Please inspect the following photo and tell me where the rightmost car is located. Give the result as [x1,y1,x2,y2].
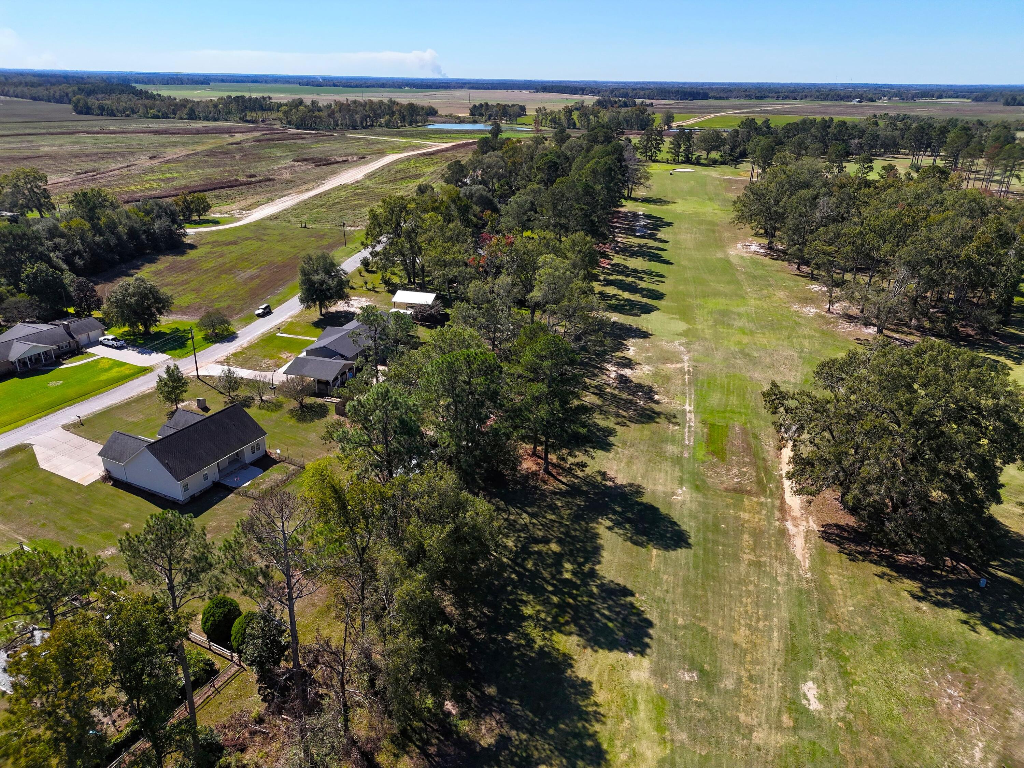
[254,303,273,316]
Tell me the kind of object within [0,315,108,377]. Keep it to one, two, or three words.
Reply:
house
